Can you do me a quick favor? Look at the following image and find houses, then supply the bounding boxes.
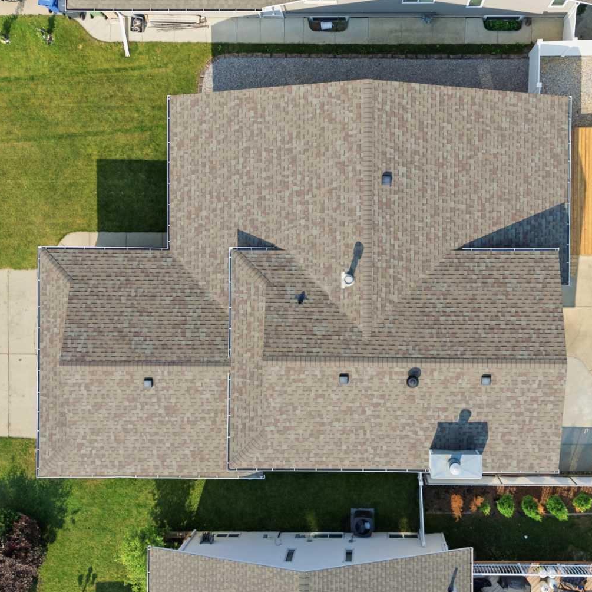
[38,76,570,479]
[65,0,592,32]
[148,529,472,592]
